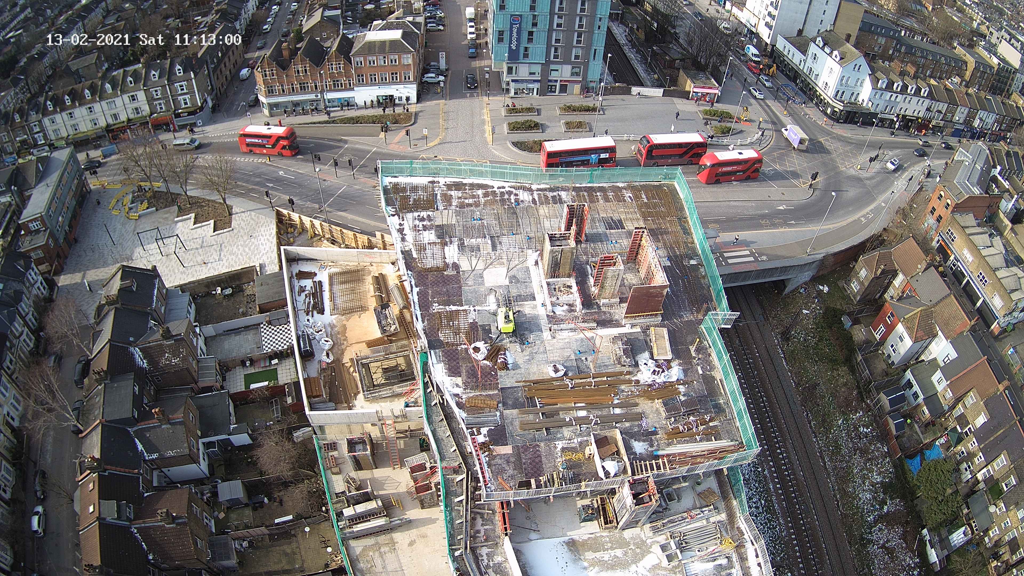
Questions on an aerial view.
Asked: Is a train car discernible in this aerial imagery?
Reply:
No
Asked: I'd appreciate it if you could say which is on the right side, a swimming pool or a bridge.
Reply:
bridge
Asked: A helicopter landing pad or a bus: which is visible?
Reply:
bus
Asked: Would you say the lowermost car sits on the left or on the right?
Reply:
left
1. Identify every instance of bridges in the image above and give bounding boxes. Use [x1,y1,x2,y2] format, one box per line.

[719,257,824,294]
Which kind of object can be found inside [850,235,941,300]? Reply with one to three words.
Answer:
house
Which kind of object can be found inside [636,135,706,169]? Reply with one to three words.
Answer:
bus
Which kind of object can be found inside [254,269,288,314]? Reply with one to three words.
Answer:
shed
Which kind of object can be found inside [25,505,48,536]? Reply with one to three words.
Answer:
car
